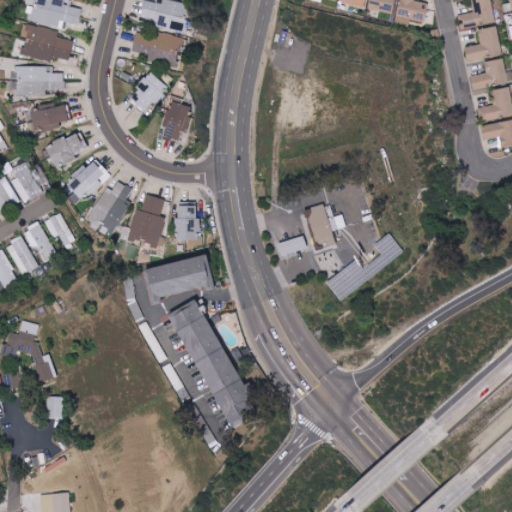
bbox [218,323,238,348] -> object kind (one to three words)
swimming pool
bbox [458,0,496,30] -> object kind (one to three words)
house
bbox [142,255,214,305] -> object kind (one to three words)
building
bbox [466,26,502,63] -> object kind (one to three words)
house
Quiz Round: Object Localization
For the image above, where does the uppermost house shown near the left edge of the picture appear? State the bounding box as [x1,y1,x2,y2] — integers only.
[25,0,80,30]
